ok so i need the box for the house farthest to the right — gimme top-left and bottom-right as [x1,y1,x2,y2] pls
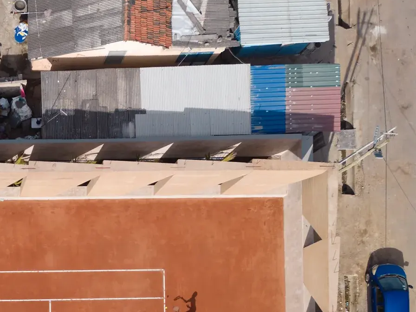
[279,65,341,145]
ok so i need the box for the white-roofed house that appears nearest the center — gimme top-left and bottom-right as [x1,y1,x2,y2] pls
[141,67,252,137]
